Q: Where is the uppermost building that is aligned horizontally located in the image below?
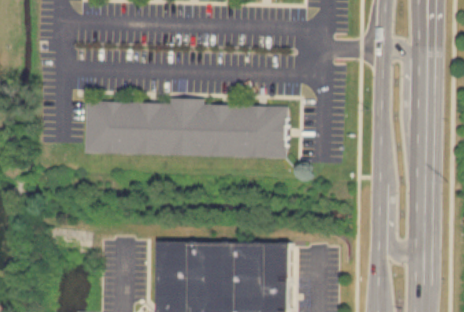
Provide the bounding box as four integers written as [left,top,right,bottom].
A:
[83,98,292,158]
